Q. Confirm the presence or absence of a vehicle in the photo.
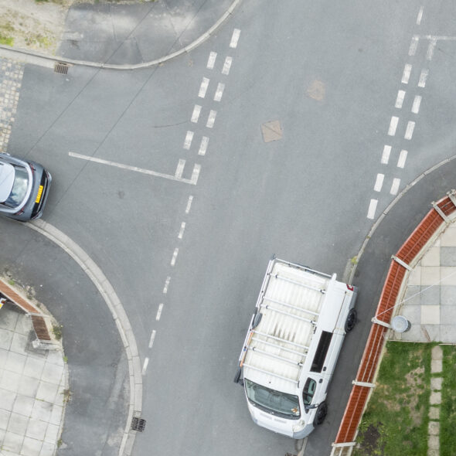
Yes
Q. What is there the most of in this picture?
paved ground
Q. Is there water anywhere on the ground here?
No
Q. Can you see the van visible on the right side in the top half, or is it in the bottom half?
bottom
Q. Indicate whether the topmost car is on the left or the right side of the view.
left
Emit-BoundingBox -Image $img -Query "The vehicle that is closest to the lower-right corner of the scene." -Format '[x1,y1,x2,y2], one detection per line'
[241,260,360,439]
